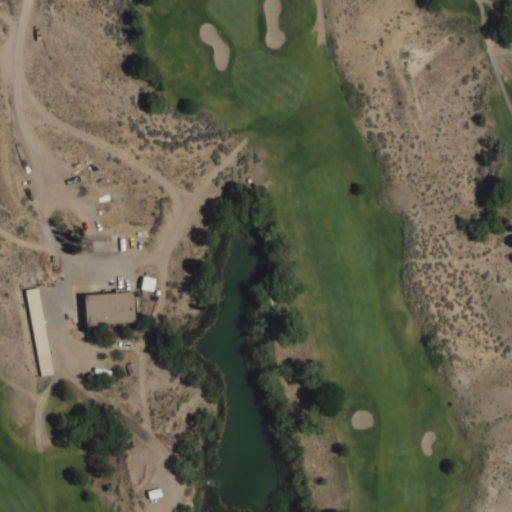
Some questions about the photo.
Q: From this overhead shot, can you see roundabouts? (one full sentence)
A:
No, no roundabout is visible in the view.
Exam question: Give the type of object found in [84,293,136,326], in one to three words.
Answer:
building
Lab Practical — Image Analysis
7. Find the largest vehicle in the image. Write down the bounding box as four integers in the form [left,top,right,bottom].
[18,145,31,172]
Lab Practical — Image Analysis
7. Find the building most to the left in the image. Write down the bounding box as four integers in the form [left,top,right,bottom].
[26,288,54,376]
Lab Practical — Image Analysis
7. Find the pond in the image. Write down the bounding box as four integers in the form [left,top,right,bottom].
[194,235,278,511]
